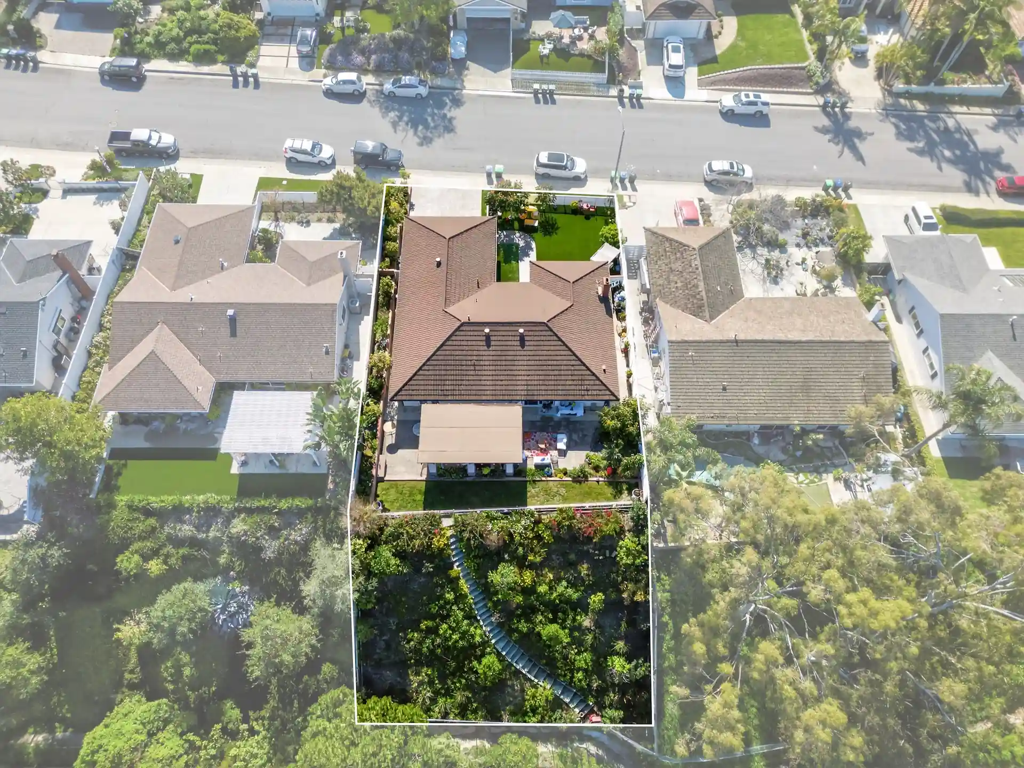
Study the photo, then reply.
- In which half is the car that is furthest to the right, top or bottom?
top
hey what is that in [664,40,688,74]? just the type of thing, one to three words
car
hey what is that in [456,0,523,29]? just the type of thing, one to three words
house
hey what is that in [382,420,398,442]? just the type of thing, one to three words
umbrella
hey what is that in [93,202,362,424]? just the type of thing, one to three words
house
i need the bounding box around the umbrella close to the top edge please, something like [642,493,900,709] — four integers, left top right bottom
[550,14,574,43]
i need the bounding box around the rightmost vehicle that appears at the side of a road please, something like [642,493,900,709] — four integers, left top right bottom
[998,170,1024,194]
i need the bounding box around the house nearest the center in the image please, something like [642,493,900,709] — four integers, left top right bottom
[389,215,619,413]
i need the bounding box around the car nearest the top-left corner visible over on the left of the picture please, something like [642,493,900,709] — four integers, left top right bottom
[95,59,143,84]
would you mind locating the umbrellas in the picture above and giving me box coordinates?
[382,420,398,442]
[550,14,574,43]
